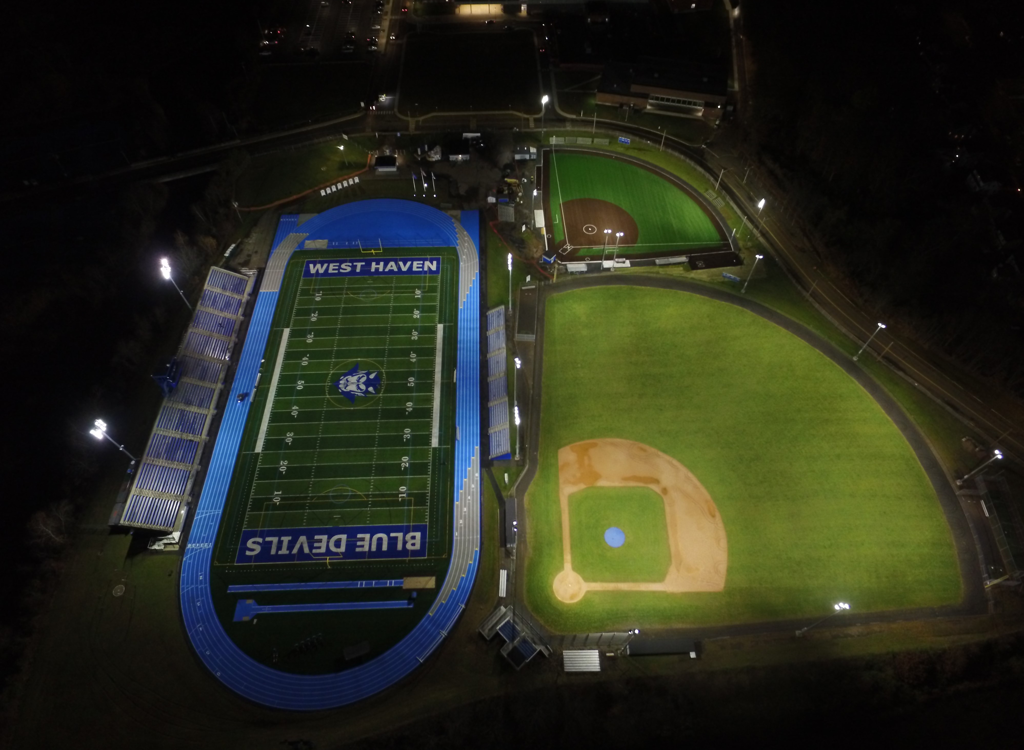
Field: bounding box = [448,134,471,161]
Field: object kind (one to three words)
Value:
building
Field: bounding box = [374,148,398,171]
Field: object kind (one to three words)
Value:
building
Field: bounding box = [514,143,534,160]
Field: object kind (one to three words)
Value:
shed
